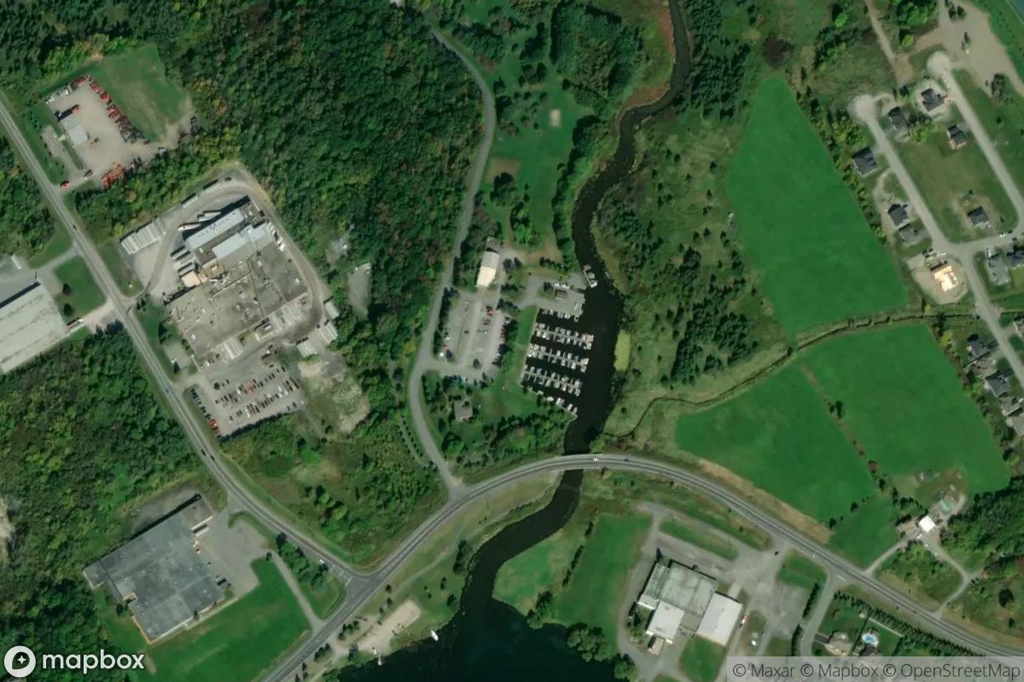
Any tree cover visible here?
Yes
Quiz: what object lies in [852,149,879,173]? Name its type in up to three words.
house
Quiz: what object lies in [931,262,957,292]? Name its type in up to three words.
house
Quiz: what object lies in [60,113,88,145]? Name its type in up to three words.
building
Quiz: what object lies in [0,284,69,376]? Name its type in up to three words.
building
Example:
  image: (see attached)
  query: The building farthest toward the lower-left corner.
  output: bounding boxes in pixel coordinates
[84,496,223,643]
